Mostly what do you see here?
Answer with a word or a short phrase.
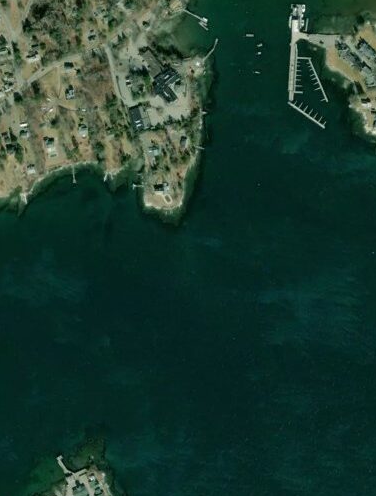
water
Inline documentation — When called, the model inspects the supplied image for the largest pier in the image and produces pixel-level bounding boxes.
[288,20,311,101]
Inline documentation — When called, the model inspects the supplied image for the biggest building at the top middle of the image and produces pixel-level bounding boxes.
[140,50,177,103]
